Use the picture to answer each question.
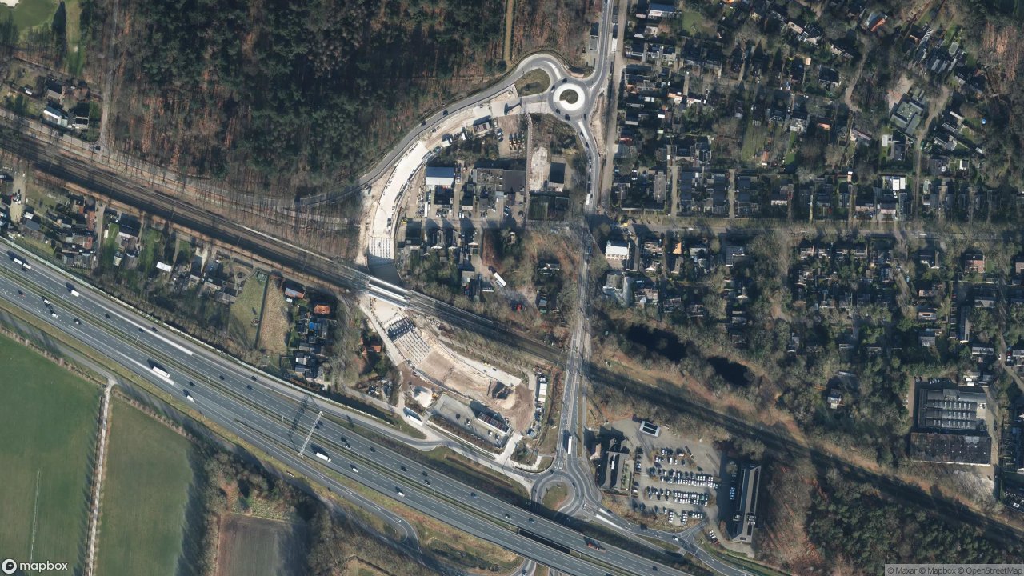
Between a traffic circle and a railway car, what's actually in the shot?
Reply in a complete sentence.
I can see a traffic circle in this picture.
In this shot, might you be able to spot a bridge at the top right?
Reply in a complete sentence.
No, no bridge can be made out at the top right.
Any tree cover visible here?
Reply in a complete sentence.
Yes, there's tree cover in this view.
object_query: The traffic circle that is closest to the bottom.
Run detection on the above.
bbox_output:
[532,469,581,520]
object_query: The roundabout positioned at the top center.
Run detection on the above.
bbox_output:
[548,76,590,118]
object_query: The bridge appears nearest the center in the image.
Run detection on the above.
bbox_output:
[365,275,409,311]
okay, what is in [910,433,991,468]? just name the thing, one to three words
building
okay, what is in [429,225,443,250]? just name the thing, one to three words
house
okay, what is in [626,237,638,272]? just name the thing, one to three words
building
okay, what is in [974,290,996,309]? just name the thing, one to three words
house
